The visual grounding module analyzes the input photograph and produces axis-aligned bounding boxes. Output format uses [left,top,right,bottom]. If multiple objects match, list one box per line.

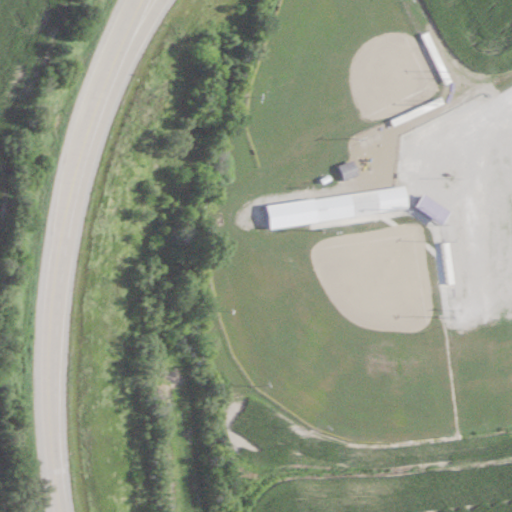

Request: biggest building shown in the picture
[267,186,411,231]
